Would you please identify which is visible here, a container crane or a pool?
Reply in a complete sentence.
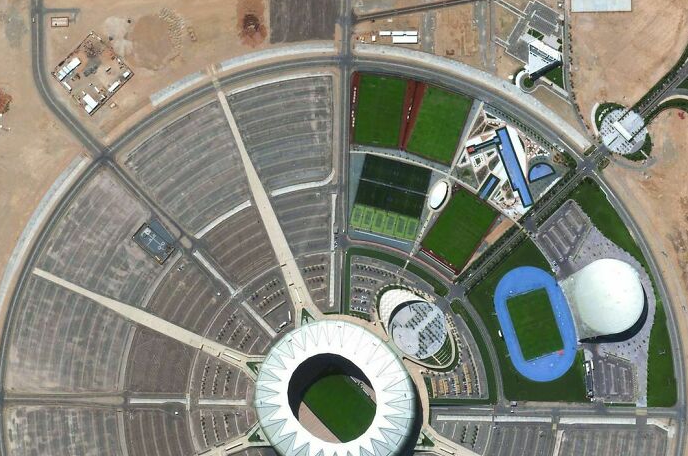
The image shows a pool.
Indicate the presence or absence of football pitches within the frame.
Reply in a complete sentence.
Yes, there's a football pitch down there.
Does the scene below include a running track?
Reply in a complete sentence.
Yes, a running track can be made out from above.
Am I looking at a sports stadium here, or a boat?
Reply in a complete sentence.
It is a sports stadium that can be seen here.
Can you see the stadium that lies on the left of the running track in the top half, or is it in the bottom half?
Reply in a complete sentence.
The stadium that lies on the left of the running track is in the bottom half of the image.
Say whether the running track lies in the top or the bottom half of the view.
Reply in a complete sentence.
The running track is in the bottom half of the image.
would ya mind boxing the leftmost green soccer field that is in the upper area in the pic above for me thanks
[350,73,415,149]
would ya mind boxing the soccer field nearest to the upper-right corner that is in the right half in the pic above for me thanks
[403,80,473,167]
